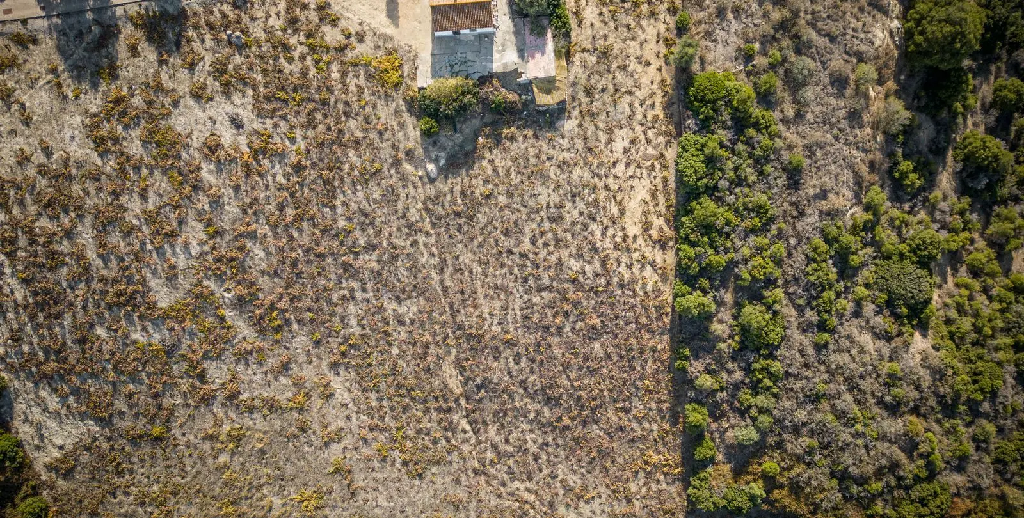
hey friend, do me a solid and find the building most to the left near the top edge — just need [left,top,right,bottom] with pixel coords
[430,0,494,37]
